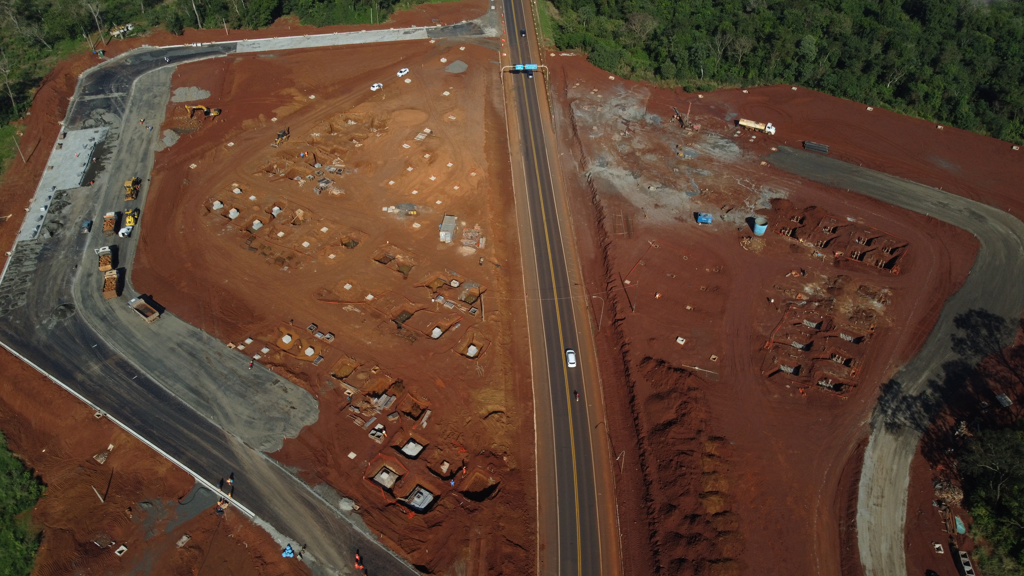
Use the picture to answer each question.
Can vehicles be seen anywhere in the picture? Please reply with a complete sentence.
Yes, a vehicle is visible in the scene.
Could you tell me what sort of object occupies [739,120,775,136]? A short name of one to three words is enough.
vehicle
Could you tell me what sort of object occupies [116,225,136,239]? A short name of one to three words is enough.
vehicle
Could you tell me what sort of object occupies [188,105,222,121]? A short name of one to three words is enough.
work vehicle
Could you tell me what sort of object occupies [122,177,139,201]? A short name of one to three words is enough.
work vehicle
